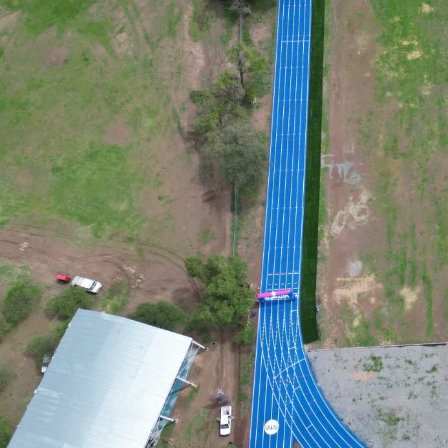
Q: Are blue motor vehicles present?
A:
No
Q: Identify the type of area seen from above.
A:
sports ground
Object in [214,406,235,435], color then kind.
white truck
